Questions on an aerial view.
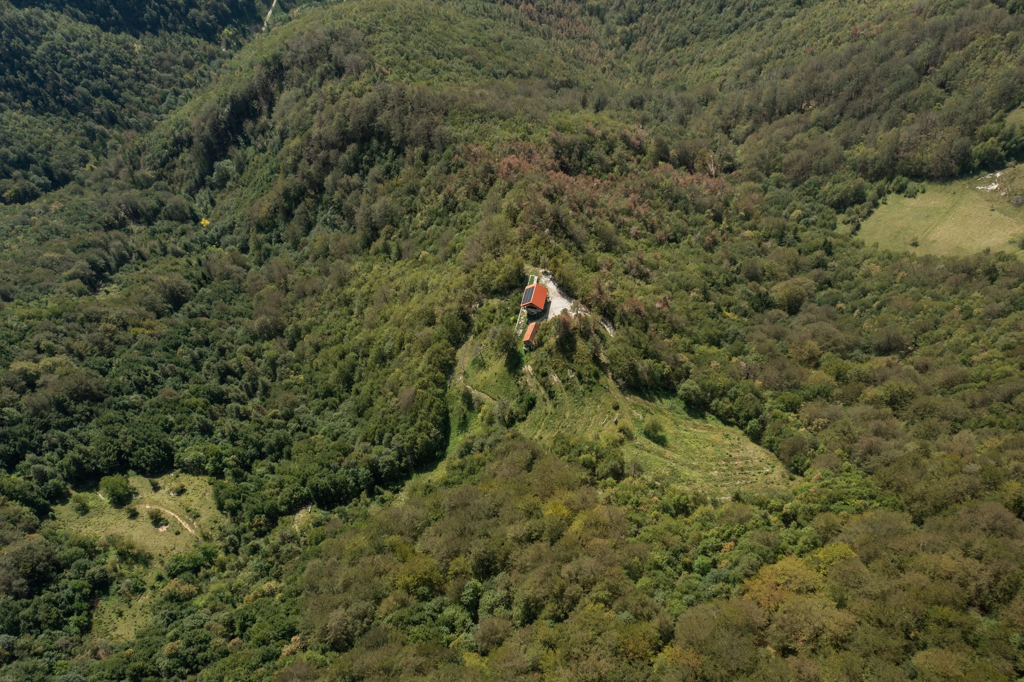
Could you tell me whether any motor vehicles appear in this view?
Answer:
No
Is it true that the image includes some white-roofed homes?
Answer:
No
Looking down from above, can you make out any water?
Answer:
No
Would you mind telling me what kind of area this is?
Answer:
forest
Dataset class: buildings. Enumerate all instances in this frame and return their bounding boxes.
[519,283,548,317]
[523,322,540,348]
